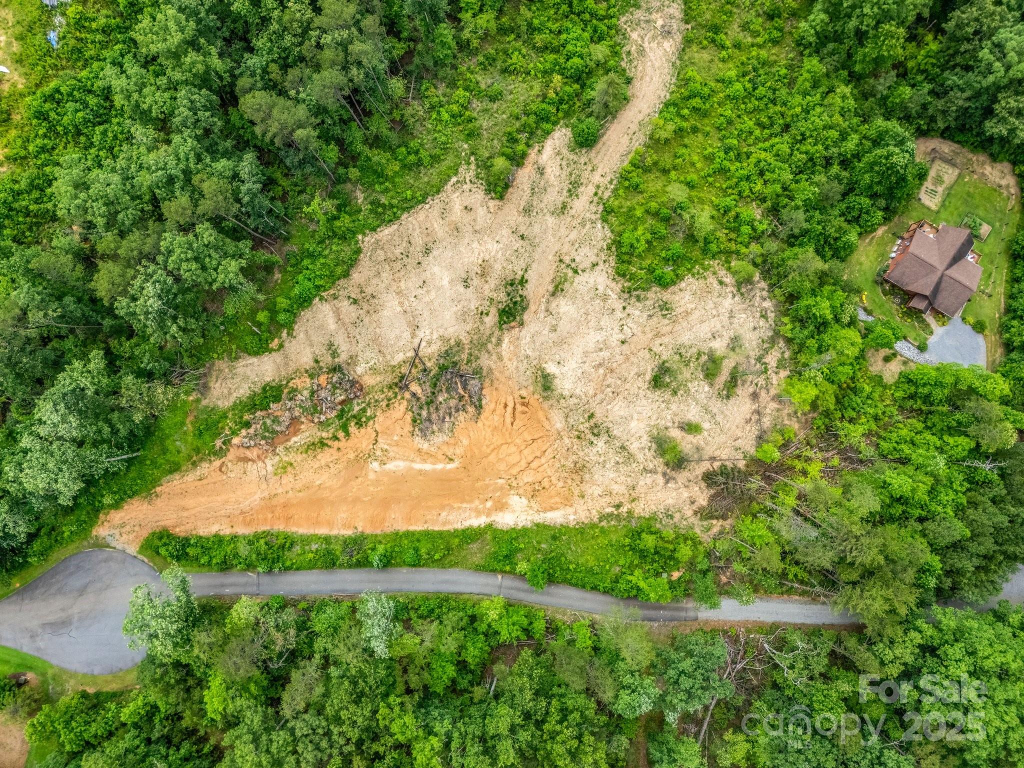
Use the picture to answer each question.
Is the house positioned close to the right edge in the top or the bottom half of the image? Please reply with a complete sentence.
You can find the house positioned close to the right edge in the top half.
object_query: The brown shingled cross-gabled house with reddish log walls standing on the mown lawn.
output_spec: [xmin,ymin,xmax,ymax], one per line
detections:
[877,213,985,321]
